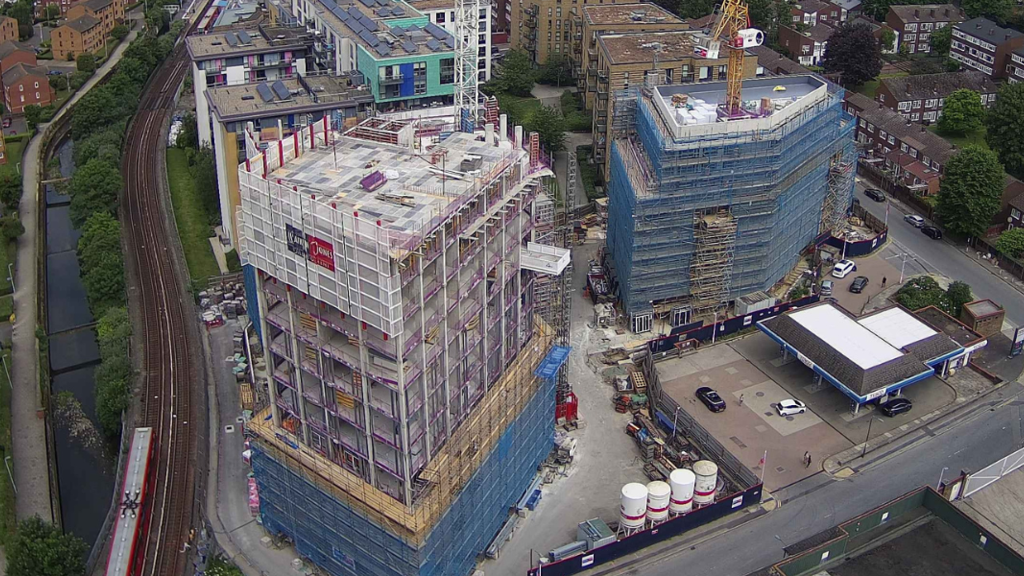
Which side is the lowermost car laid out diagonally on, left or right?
right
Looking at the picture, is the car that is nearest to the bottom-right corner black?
Yes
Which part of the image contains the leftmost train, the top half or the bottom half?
bottom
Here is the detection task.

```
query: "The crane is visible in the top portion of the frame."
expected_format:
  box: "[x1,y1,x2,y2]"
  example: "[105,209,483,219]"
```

[690,0,777,116]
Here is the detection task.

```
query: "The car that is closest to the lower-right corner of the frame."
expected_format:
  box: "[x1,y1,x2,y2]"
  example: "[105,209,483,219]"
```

[878,396,920,418]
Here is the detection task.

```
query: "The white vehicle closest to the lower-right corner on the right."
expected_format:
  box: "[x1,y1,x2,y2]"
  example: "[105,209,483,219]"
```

[773,399,809,416]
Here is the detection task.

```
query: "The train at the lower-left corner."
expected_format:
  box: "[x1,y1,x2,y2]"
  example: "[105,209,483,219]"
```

[106,427,163,576]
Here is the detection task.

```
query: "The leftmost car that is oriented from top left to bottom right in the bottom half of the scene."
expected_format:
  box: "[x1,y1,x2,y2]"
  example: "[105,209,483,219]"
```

[690,383,732,414]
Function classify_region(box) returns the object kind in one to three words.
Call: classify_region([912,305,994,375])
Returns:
building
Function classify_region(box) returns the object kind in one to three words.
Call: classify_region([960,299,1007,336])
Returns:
building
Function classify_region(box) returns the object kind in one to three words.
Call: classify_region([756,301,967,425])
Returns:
gas station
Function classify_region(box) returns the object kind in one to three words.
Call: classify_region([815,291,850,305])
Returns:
car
